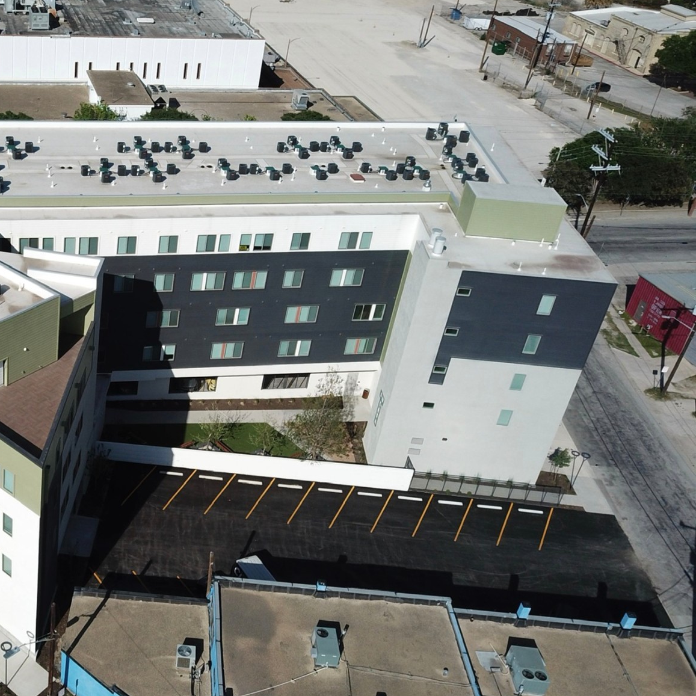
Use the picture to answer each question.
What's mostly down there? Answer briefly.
buildings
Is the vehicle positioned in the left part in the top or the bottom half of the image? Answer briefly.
bottom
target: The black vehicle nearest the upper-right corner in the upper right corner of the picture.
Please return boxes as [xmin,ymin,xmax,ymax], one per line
[589,80,610,92]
